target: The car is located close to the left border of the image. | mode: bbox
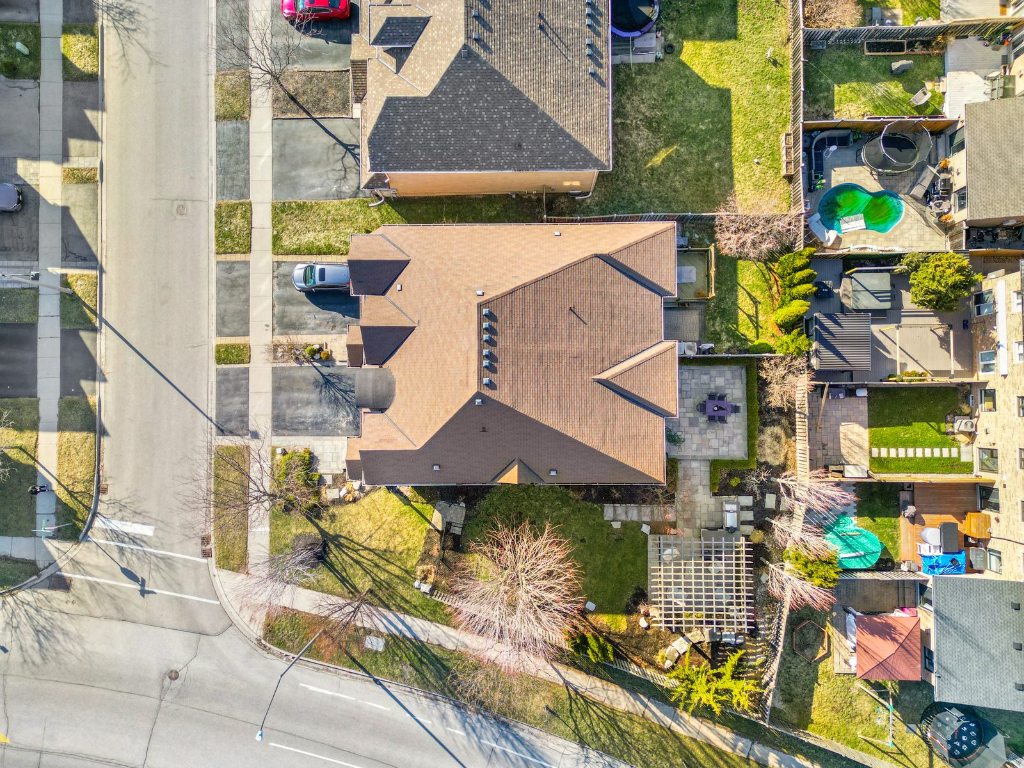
[0,184,20,212]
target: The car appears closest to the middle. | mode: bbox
[291,263,351,294]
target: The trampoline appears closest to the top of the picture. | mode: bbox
[611,0,659,40]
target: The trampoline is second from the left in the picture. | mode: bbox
[856,124,932,176]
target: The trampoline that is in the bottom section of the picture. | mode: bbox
[921,703,1004,768]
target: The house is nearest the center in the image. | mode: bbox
[345,221,679,486]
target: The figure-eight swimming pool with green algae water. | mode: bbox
[812,176,909,240]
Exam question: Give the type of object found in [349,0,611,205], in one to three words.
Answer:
house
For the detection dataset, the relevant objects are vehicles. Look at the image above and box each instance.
[283,0,349,26]
[0,184,20,212]
[291,263,351,294]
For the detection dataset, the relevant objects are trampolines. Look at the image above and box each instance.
[921,703,1004,768]
[611,0,659,40]
[856,124,932,176]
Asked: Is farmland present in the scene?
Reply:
No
